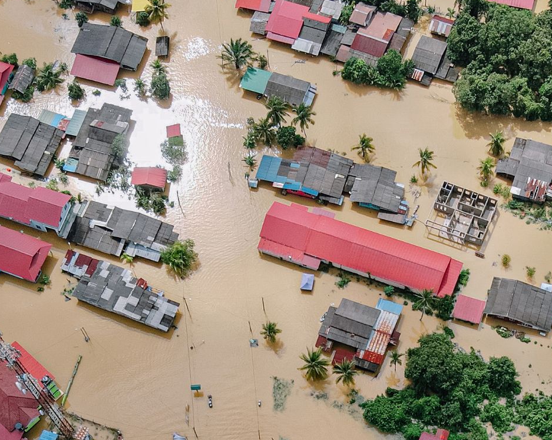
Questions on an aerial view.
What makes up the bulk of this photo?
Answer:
water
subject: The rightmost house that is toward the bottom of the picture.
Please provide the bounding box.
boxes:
[484,277,552,335]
